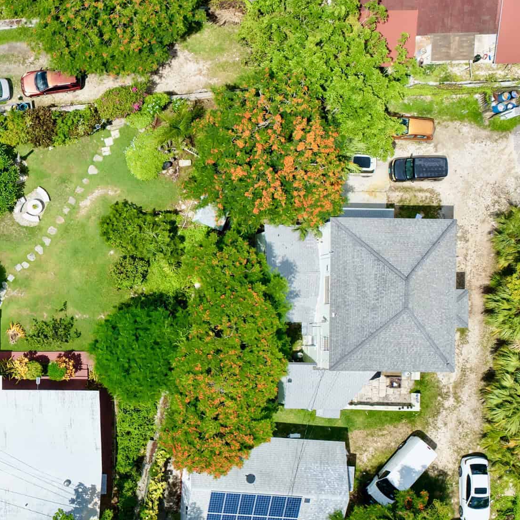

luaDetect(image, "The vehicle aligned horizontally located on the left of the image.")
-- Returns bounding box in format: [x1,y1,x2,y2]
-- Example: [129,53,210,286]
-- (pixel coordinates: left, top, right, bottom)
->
[19,67,83,99]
